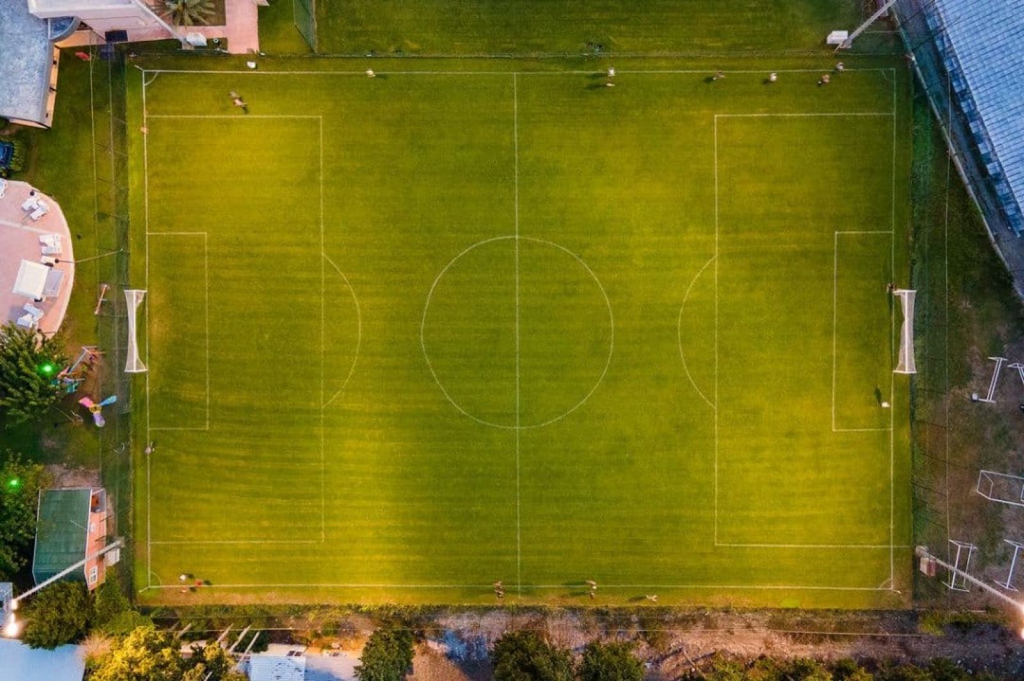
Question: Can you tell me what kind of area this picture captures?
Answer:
sports ground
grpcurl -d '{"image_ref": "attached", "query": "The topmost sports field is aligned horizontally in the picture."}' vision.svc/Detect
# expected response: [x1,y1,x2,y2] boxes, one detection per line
[316,0,891,53]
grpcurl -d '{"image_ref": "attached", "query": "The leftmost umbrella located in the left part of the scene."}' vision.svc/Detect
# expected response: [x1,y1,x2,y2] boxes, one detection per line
[14,260,49,299]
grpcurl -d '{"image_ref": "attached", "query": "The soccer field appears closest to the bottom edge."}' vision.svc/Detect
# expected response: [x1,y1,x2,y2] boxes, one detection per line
[129,56,912,606]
